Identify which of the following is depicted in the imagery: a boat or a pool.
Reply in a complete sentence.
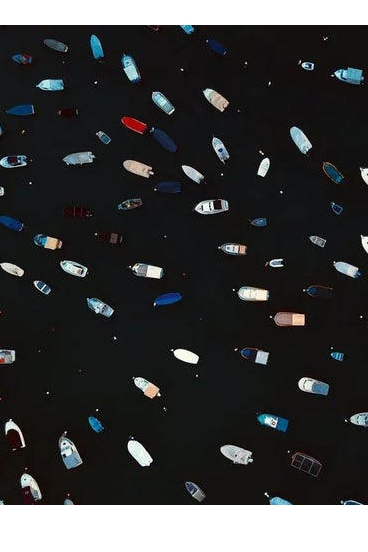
I can see a boat in this picture.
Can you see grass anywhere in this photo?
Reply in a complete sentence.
No, there is no grass in the image.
